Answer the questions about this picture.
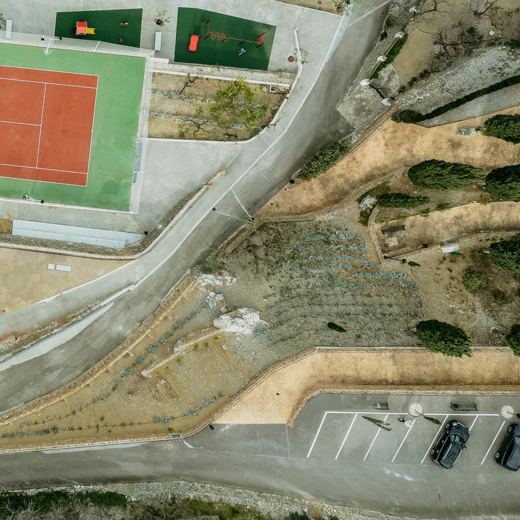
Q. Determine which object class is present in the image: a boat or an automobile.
automobile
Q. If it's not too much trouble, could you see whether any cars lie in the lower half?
Yes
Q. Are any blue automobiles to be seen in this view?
No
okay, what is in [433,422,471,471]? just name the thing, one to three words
car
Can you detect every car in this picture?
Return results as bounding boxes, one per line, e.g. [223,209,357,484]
[497,424,520,473]
[433,422,471,471]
